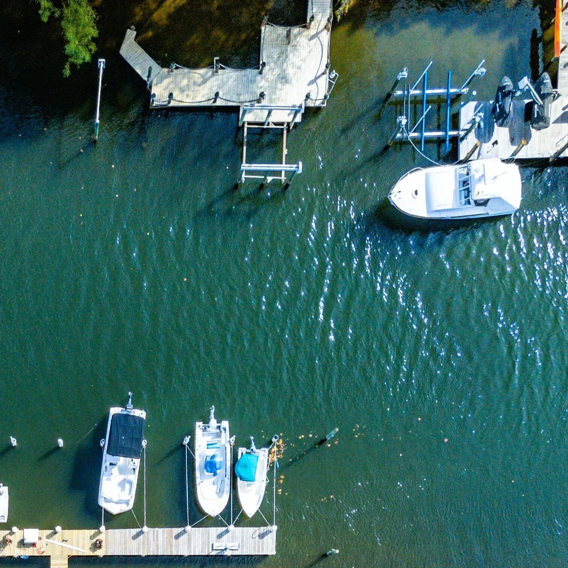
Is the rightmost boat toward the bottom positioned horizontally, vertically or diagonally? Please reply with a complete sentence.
The rightmost boat toward the bottom is laid out vertically.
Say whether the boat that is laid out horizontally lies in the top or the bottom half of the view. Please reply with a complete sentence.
It is in the top half that the boat that is laid out horizontally appears.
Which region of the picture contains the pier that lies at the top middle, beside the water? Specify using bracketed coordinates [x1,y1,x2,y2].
[120,0,338,126]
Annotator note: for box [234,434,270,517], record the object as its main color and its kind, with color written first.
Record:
white boat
